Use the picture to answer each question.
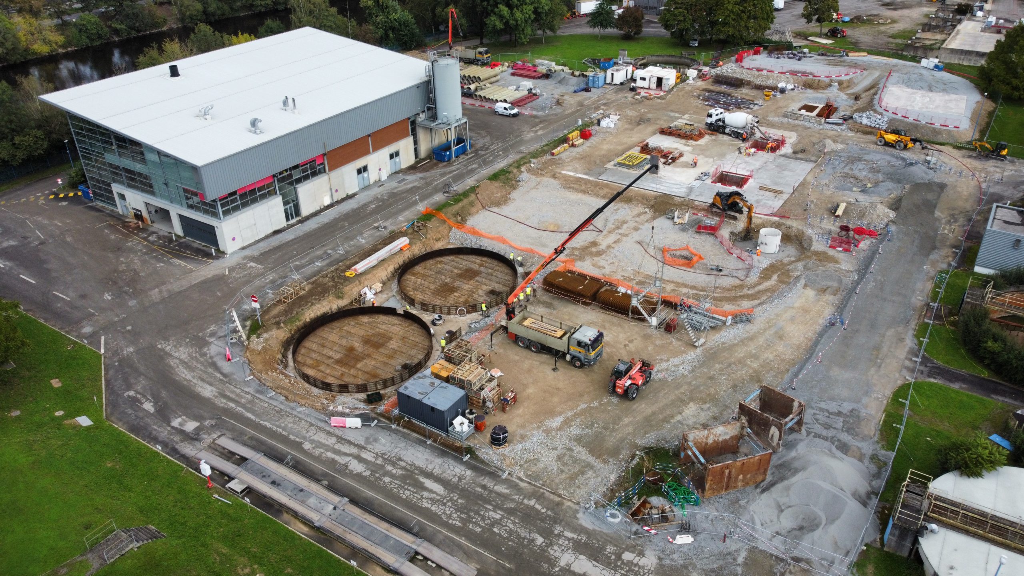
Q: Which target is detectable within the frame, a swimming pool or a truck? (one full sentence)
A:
Of the two, only a truck appears.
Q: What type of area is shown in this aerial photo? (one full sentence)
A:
This looks like an industrial area.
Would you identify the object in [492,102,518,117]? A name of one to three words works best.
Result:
vehicle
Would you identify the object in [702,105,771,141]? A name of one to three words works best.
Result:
truck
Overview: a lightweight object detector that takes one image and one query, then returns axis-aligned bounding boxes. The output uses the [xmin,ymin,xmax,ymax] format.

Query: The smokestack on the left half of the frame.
[166,61,181,78]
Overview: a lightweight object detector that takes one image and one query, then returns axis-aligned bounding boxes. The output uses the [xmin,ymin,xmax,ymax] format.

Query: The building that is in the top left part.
[44,28,435,255]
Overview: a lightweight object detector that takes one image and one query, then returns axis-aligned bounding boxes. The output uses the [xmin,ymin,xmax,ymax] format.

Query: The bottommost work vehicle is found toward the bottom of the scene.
[603,354,655,402]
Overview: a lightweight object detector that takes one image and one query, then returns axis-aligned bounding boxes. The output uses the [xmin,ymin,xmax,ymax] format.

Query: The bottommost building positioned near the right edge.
[975,202,1024,281]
